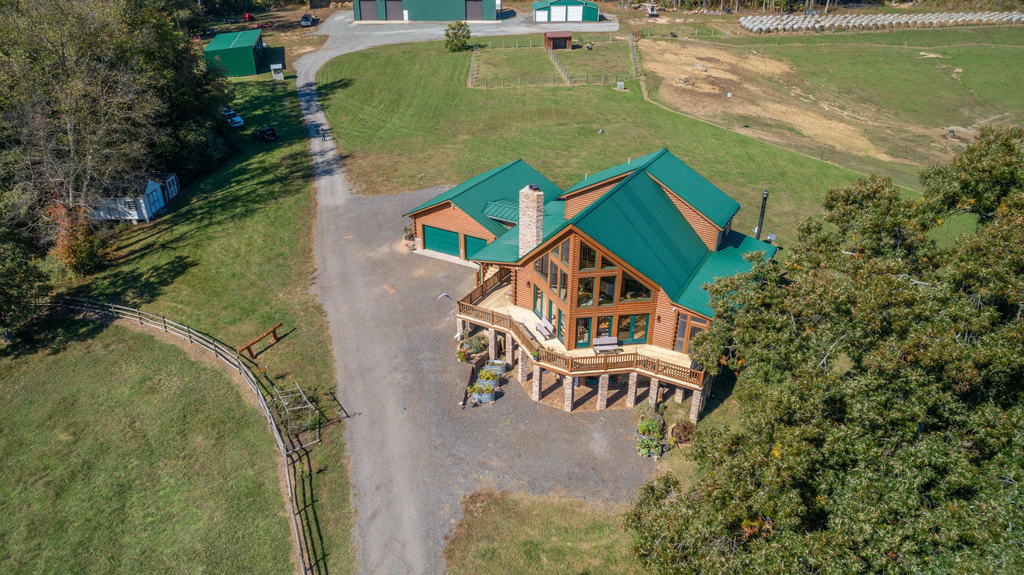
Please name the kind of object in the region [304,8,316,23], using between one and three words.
vehicle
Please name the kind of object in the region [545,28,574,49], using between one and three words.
shed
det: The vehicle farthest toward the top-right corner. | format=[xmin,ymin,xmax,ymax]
[646,4,661,18]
